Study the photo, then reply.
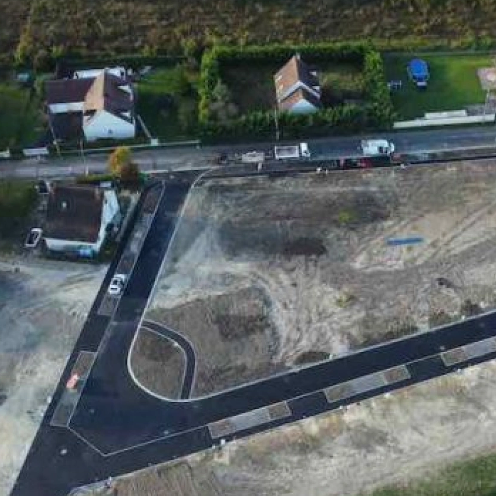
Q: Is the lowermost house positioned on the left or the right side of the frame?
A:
left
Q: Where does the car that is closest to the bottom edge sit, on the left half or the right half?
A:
left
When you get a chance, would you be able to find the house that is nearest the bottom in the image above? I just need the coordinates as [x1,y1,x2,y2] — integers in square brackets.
[41,180,126,259]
